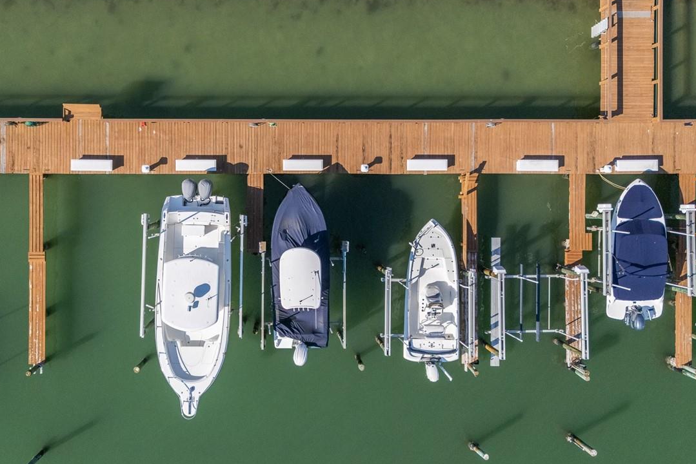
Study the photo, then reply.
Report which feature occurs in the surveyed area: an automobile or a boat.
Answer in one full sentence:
Looking from above, you can make out a boat.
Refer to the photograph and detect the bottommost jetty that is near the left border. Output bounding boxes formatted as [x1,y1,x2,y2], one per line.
[28,174,53,365]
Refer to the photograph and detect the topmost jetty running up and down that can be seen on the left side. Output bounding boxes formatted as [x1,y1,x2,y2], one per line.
[248,174,265,253]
